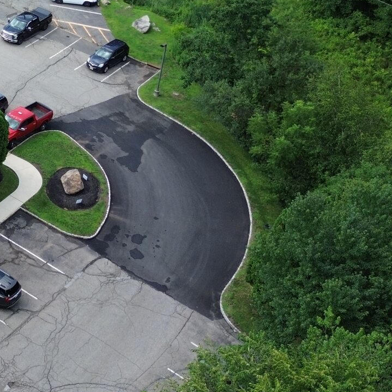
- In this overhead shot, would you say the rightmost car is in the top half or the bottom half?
top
